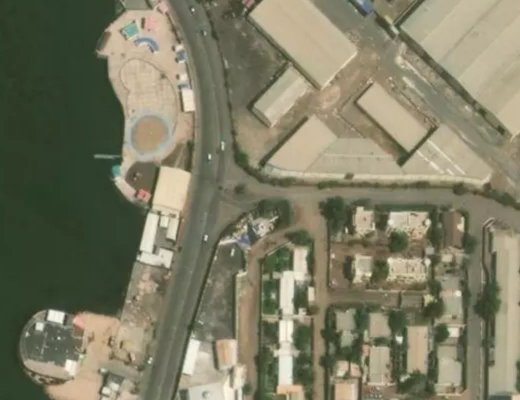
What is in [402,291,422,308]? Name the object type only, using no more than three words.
shed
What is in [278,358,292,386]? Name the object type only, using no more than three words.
house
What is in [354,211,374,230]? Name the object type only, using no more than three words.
house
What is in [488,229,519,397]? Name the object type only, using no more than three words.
building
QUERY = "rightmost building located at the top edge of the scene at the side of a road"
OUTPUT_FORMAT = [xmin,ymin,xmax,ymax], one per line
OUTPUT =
[400,0,520,140]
